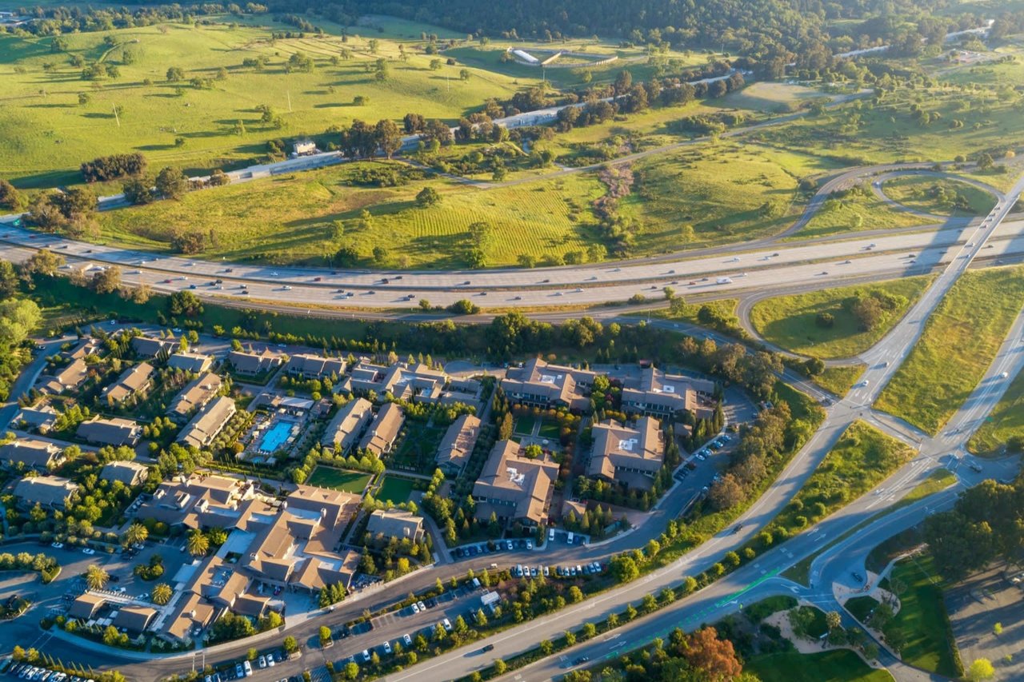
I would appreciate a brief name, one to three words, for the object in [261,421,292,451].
swimming pool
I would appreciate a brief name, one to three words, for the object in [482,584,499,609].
vehicle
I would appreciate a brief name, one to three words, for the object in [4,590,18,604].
vehicle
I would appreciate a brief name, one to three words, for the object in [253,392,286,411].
building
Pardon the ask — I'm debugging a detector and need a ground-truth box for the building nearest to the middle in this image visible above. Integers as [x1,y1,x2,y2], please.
[497,356,600,422]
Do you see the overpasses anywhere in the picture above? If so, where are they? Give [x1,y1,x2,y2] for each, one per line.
[932,198,1013,296]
